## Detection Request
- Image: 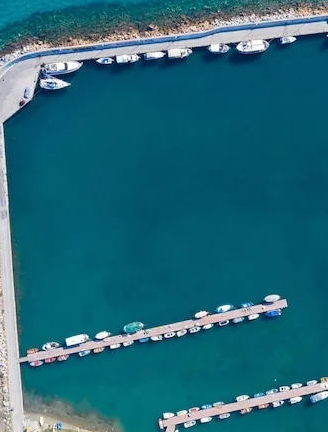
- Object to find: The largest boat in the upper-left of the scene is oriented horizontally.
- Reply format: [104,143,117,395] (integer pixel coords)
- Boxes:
[39,63,80,76]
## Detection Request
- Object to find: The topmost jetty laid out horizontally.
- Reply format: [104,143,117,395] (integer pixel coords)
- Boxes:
[17,299,287,362]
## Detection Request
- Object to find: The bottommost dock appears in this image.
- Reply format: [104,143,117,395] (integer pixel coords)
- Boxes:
[162,382,328,432]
